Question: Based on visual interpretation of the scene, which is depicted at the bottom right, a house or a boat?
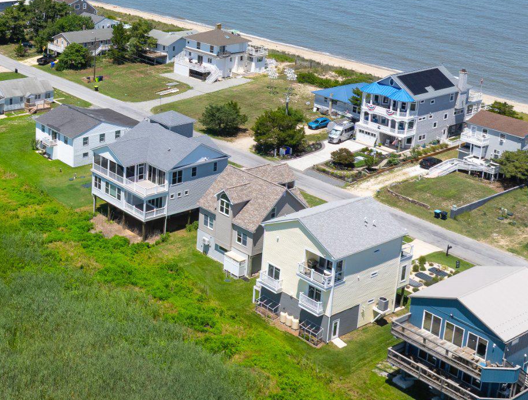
house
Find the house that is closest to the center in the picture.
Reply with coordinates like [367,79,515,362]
[195,165,321,276]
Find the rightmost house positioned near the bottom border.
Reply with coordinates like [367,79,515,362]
[386,267,528,400]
